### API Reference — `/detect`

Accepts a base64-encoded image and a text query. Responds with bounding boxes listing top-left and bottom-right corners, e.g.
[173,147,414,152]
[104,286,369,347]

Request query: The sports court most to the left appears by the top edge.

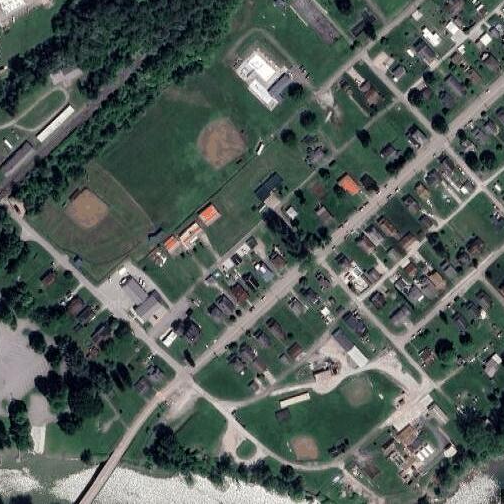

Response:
[292,0,340,46]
